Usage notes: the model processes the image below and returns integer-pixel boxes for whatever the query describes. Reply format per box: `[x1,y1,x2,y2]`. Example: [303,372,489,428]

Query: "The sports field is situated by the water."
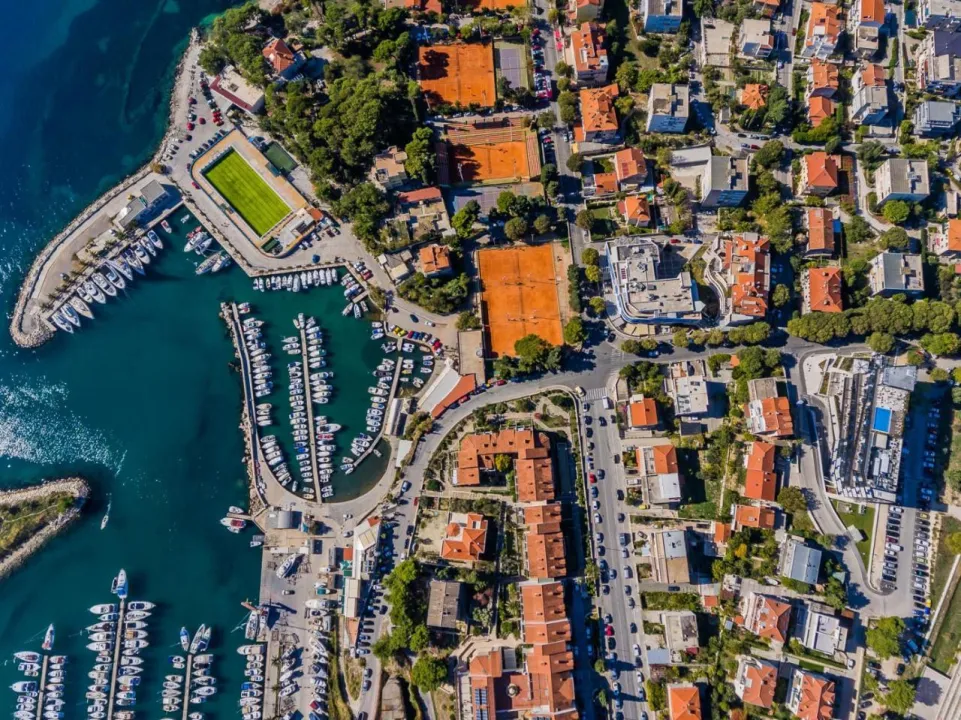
[189,125,313,258]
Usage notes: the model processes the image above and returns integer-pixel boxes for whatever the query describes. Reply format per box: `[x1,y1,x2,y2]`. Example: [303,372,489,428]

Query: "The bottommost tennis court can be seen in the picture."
[485,313,563,357]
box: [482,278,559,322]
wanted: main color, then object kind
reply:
orange tennis court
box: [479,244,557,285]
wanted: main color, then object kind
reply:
orange tennis court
